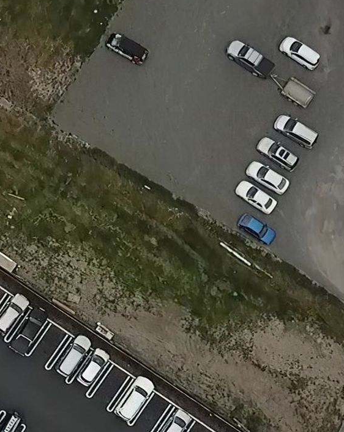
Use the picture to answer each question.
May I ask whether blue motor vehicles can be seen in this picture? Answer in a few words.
Yes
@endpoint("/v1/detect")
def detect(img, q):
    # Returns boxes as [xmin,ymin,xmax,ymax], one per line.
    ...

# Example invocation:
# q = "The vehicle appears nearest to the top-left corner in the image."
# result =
[103,34,151,68]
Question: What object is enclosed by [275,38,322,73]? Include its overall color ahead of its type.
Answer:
white car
